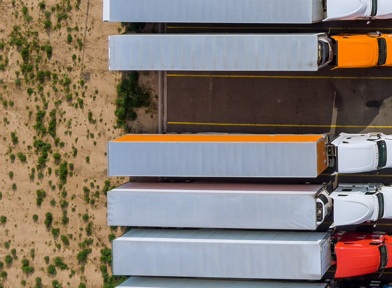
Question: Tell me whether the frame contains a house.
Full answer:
No, I can't see a single house in this photo.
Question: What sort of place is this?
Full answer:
This looks like a parking lot.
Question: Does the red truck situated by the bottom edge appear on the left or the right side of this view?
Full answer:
It is on the right.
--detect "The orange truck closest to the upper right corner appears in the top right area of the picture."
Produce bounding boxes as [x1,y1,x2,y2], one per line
[329,31,392,73]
